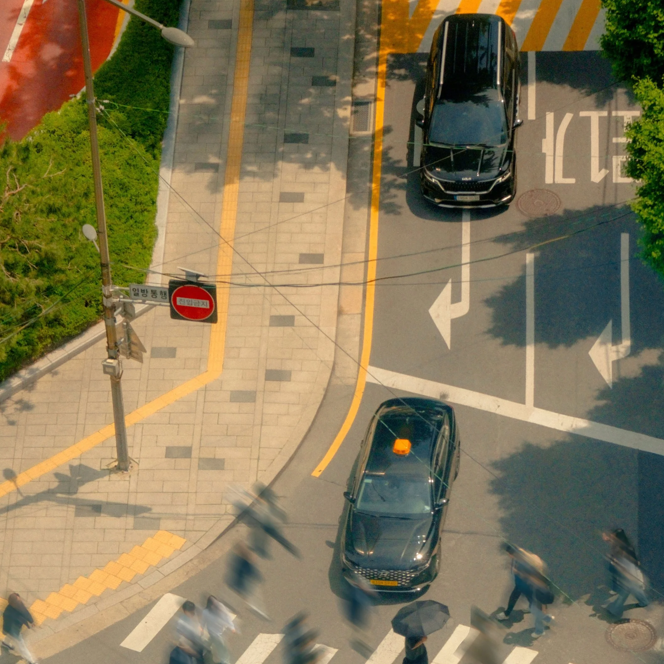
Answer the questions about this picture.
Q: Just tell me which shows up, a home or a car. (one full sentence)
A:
The image shows a car.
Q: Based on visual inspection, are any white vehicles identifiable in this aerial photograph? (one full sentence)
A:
No, no white vehicle is visible in the view.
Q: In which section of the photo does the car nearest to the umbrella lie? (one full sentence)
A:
The car nearest to the umbrella is in the bottom part of the image.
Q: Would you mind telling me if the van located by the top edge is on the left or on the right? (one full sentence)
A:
You can find the van located by the top edge on the right side of the picture.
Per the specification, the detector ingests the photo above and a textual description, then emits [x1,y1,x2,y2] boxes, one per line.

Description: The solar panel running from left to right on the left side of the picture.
[172,264,207,279]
